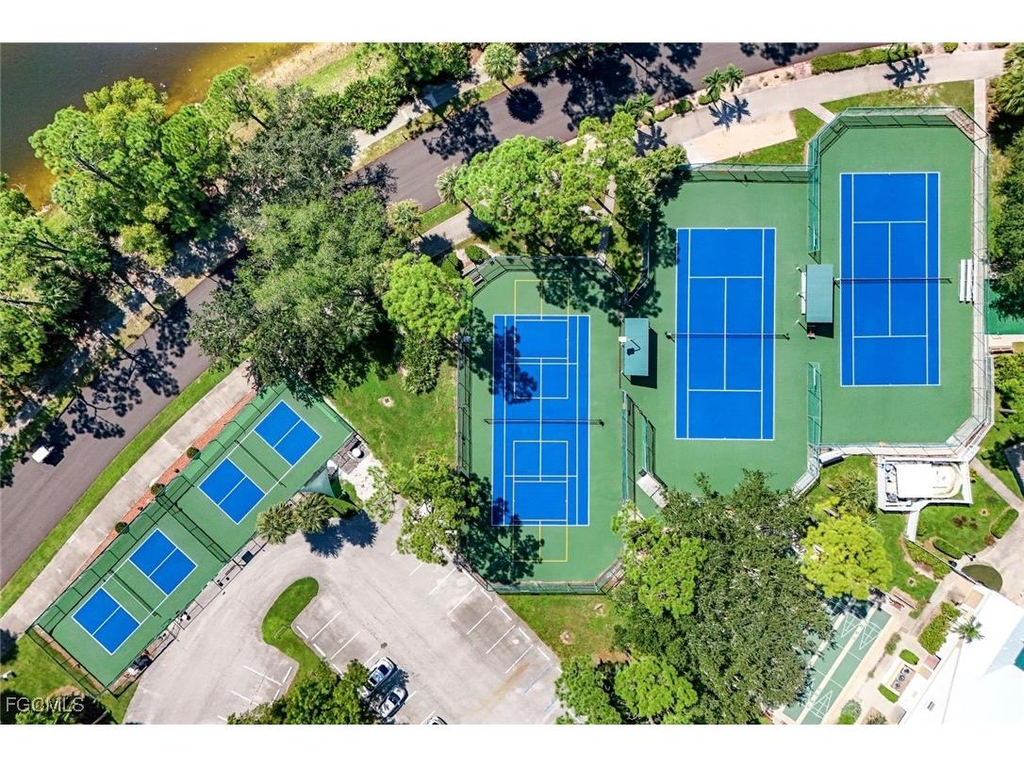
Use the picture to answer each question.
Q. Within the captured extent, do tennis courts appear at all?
Yes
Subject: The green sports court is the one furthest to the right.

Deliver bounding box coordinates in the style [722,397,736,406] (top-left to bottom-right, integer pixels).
[984,279,1024,345]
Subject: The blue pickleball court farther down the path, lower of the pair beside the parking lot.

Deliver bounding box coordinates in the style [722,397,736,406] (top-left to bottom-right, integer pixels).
[38,497,233,688]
